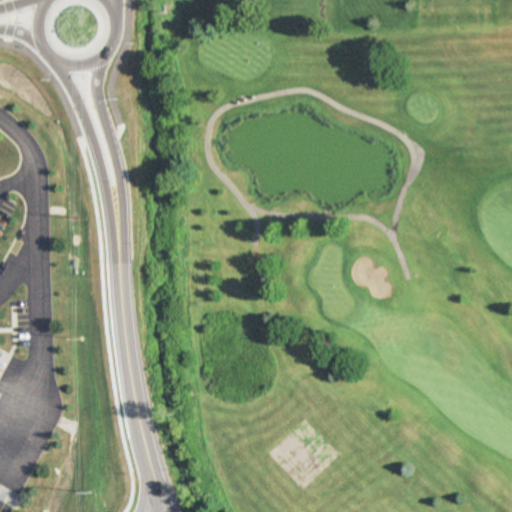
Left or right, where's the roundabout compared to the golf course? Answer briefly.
left of it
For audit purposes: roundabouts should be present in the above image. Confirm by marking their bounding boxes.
[0,0,123,187]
